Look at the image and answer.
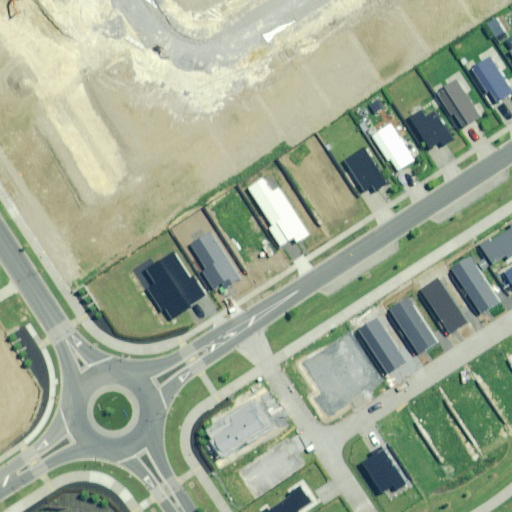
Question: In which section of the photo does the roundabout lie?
bottom left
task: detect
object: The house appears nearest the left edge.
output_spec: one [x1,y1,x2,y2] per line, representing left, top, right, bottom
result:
[146,252,204,318]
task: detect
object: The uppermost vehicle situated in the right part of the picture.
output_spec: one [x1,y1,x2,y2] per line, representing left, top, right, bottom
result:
[498,103,511,119]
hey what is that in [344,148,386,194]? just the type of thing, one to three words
house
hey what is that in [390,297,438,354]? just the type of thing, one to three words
house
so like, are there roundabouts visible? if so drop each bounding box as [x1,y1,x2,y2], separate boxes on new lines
[16,320,213,512]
